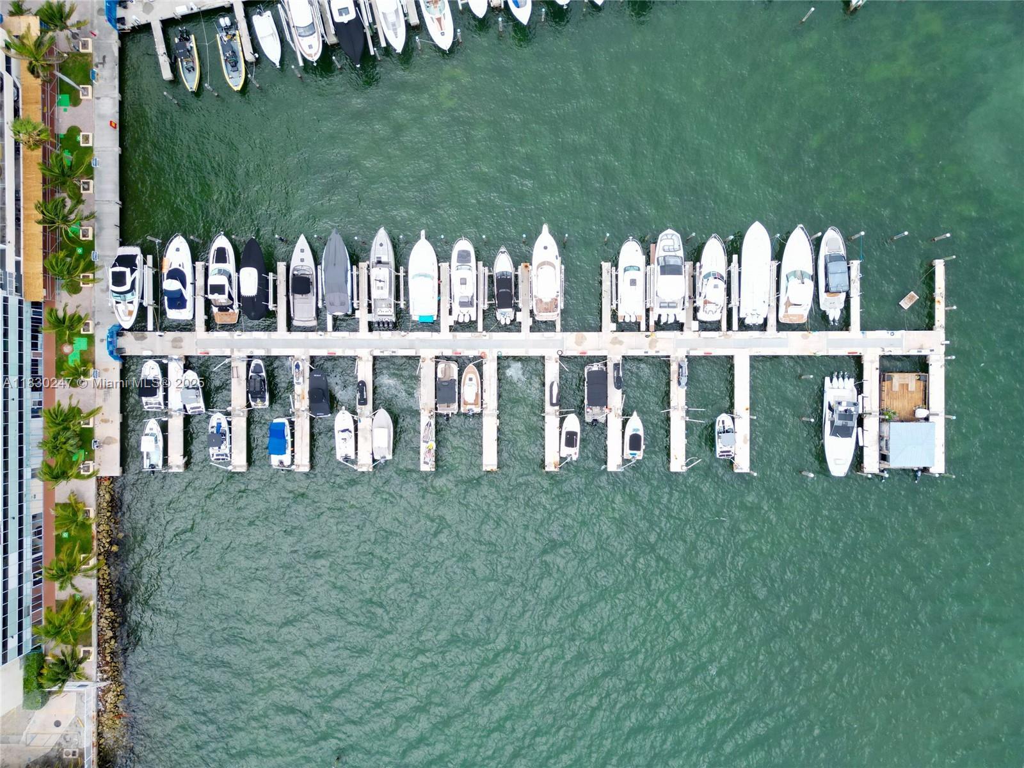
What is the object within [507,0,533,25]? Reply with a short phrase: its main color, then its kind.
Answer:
white boat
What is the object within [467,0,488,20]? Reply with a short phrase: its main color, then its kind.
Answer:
white boat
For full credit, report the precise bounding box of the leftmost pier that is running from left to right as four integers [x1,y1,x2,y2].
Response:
[120,0,266,34]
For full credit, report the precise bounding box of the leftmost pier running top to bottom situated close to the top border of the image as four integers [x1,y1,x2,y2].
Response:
[151,20,176,82]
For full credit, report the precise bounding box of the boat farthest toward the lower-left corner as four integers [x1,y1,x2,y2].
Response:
[141,419,167,475]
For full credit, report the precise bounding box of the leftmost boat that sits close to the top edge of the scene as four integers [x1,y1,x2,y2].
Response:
[172,30,203,92]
